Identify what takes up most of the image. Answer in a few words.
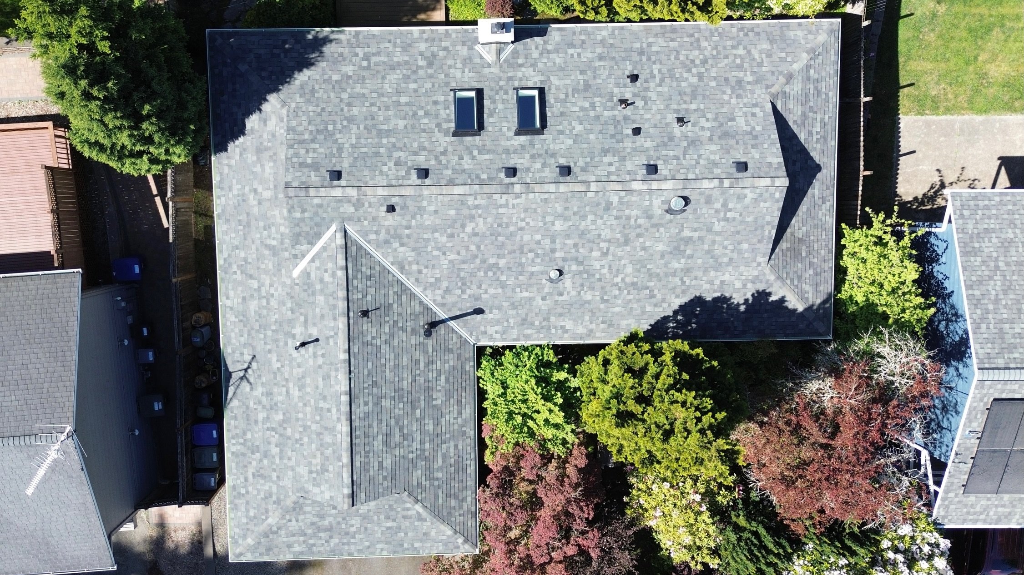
buildings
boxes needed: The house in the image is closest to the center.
[206,18,841,562]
